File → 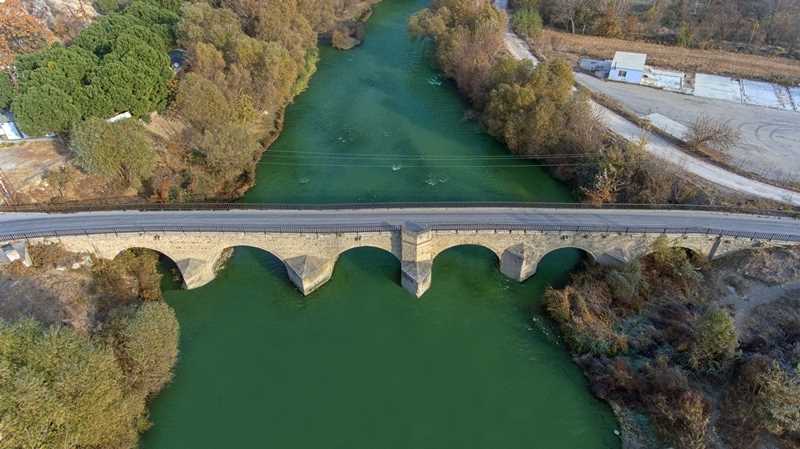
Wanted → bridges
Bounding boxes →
[0,201,800,296]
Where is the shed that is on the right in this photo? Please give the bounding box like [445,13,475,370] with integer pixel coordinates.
[607,52,651,84]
